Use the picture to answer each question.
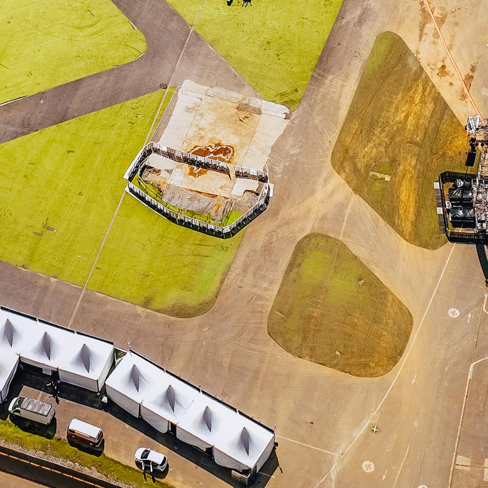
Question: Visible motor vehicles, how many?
3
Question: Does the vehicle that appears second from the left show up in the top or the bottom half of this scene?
bottom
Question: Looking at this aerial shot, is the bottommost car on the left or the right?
left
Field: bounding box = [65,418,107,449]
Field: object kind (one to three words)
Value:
vehicle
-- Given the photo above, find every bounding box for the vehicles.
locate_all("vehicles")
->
[132,450,172,478]
[65,418,107,449]
[11,398,60,427]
